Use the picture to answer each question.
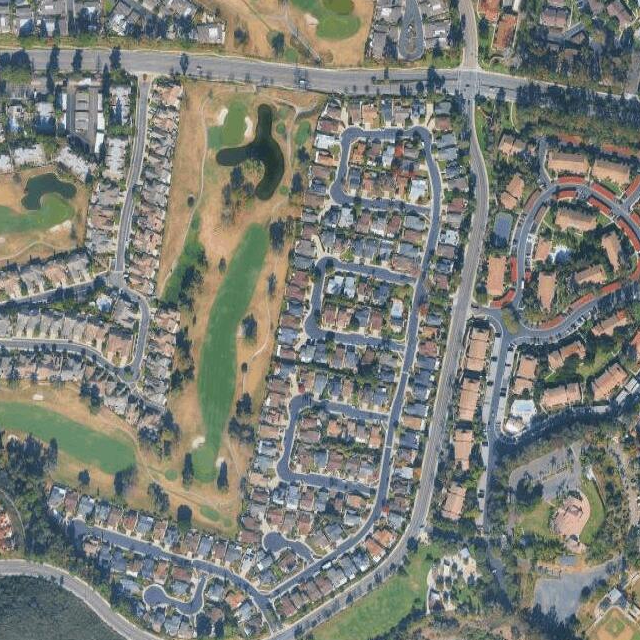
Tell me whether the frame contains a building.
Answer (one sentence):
Yes, the image includes a building.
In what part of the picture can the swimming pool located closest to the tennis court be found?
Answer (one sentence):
The swimming pool located closest to the tennis court is in the right part of the image.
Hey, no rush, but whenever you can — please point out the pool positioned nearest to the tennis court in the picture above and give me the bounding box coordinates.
[552,244,572,265]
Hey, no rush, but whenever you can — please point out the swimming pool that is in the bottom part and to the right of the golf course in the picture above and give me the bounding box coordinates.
[511,399,536,425]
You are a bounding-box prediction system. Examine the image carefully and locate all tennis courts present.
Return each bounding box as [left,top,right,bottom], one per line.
[491,211,512,247]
